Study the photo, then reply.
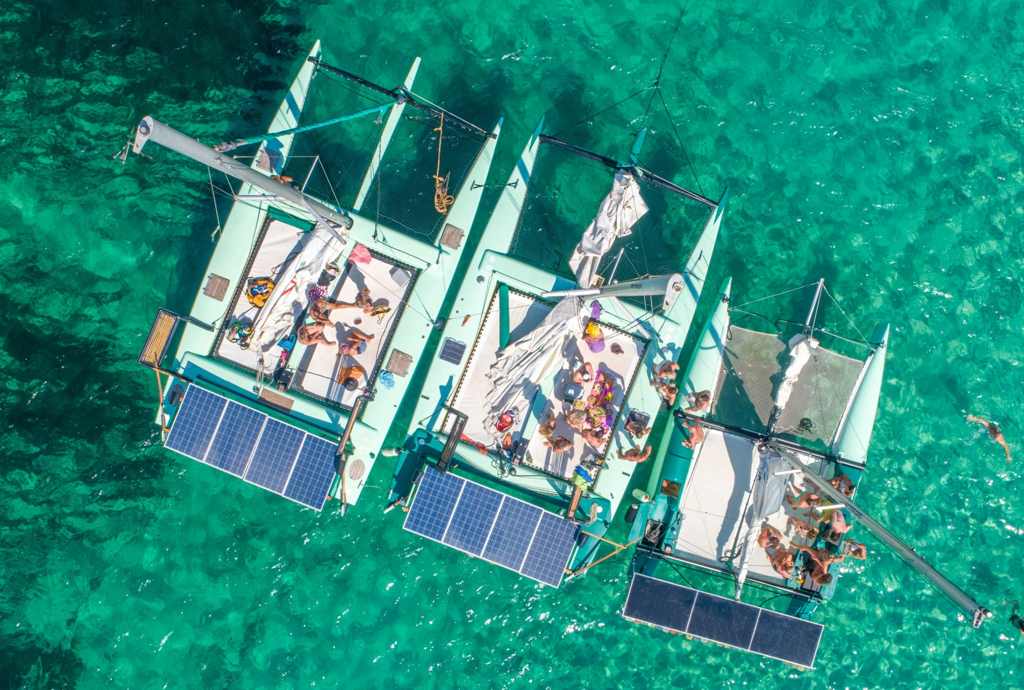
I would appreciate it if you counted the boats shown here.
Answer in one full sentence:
The photo contains 3 boats.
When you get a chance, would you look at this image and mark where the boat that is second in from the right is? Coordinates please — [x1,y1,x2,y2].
[384,121,723,588]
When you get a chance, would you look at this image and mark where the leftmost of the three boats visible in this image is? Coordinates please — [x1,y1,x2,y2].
[112,39,503,516]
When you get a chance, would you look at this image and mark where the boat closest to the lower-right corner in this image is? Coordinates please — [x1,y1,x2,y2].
[623,277,995,669]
